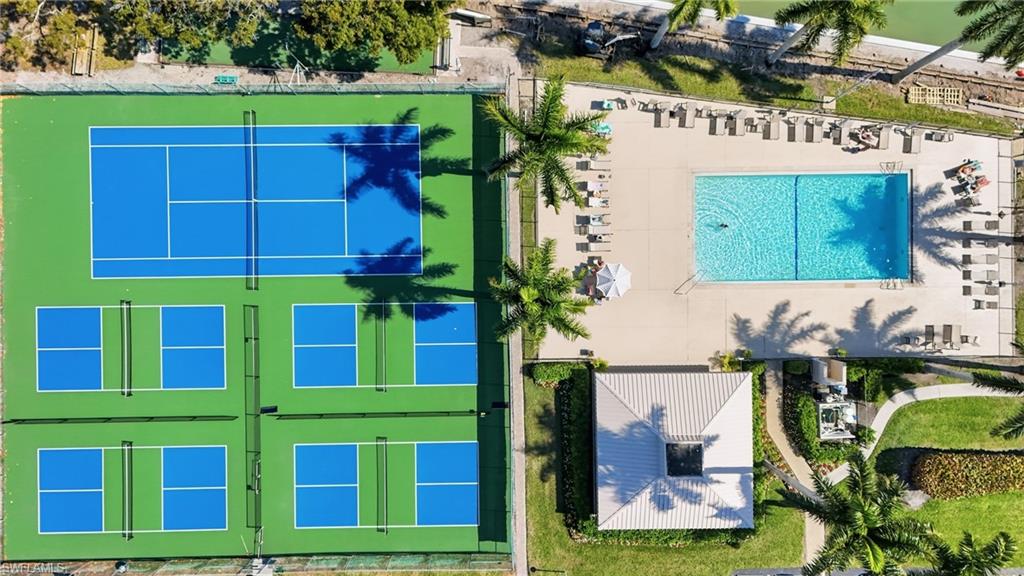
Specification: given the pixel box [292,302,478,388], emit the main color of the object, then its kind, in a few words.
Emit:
blue sports court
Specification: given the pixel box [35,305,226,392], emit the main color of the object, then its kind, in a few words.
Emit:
blue sports court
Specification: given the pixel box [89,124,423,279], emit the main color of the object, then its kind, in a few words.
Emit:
blue tennis court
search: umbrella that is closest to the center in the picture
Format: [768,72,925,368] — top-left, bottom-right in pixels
[598,263,630,296]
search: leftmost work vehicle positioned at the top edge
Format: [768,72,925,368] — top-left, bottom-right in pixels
[578,22,642,56]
